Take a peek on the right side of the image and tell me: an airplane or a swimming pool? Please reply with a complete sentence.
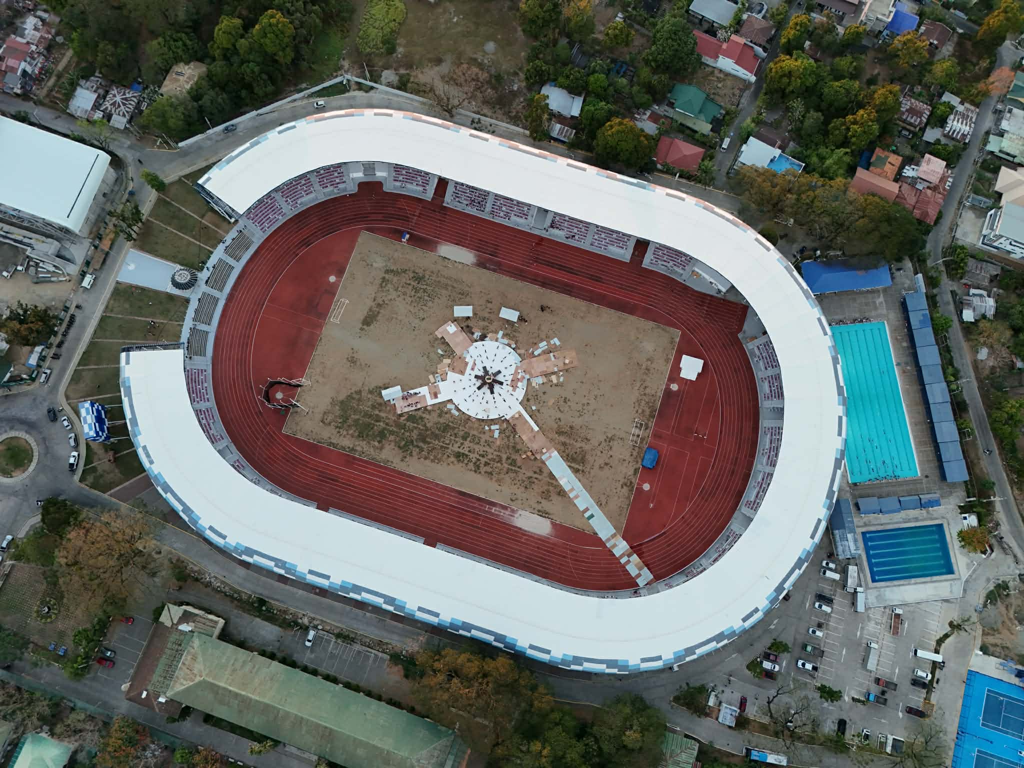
Looking on the right side of the image, you will find a swimming pool.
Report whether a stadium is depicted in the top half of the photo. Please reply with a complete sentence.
Yes, there is a stadium in the top half of the photo.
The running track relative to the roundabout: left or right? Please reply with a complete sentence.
It is on the right side of the roundabout that the running track is positioned.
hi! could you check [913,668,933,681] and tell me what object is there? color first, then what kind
white vehicle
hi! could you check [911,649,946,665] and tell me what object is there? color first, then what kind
white vehicle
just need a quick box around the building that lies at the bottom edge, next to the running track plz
[125,603,461,768]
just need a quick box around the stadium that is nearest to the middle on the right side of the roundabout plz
[120,109,846,673]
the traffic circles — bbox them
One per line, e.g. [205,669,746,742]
[0,432,38,482]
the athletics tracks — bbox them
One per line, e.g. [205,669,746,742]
[213,177,759,591]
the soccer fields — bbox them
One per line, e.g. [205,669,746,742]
[283,231,680,535]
